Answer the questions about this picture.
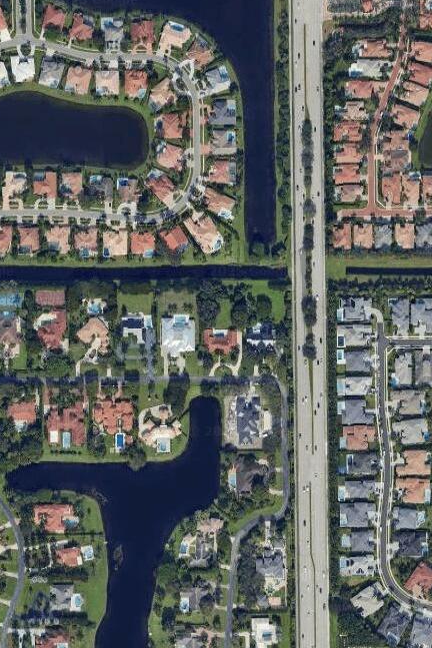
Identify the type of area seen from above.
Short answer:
residential area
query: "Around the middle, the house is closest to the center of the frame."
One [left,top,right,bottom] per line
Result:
[204,326,240,353]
